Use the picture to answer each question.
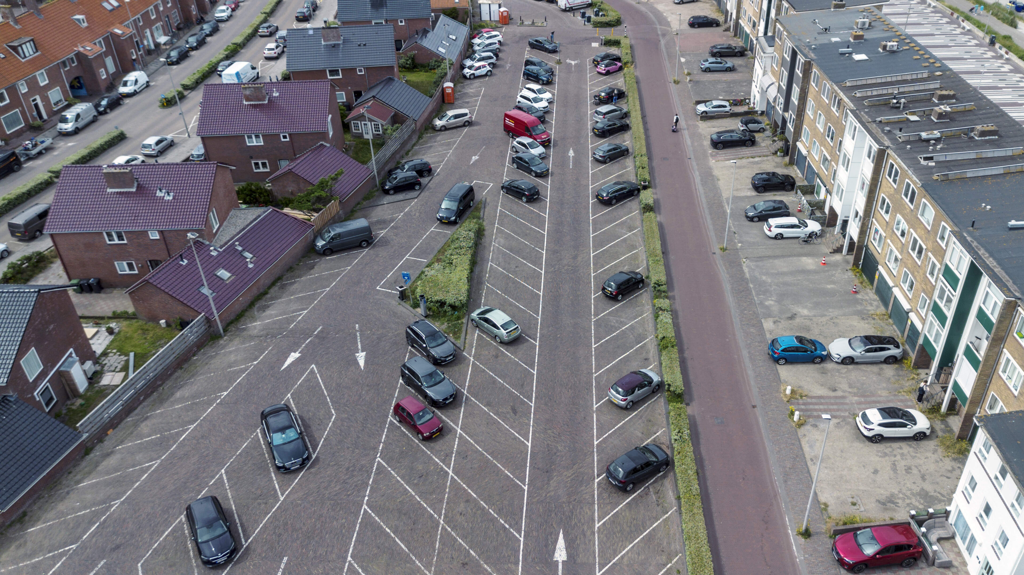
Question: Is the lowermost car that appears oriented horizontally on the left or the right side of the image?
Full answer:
The lowermost car that appears oriented horizontally is on the right side of the image.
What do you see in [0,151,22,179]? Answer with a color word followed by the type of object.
black vehicle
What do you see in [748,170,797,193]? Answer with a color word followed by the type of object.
black car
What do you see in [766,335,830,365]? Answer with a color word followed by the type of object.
blue car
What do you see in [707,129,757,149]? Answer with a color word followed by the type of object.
black car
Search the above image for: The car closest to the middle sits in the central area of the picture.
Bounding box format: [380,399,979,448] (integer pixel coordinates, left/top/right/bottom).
[468,306,521,344]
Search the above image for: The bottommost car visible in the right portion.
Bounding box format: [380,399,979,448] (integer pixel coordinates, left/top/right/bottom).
[832,523,931,574]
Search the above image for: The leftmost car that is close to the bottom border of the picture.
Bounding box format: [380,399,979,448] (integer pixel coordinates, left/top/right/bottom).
[186,492,233,567]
